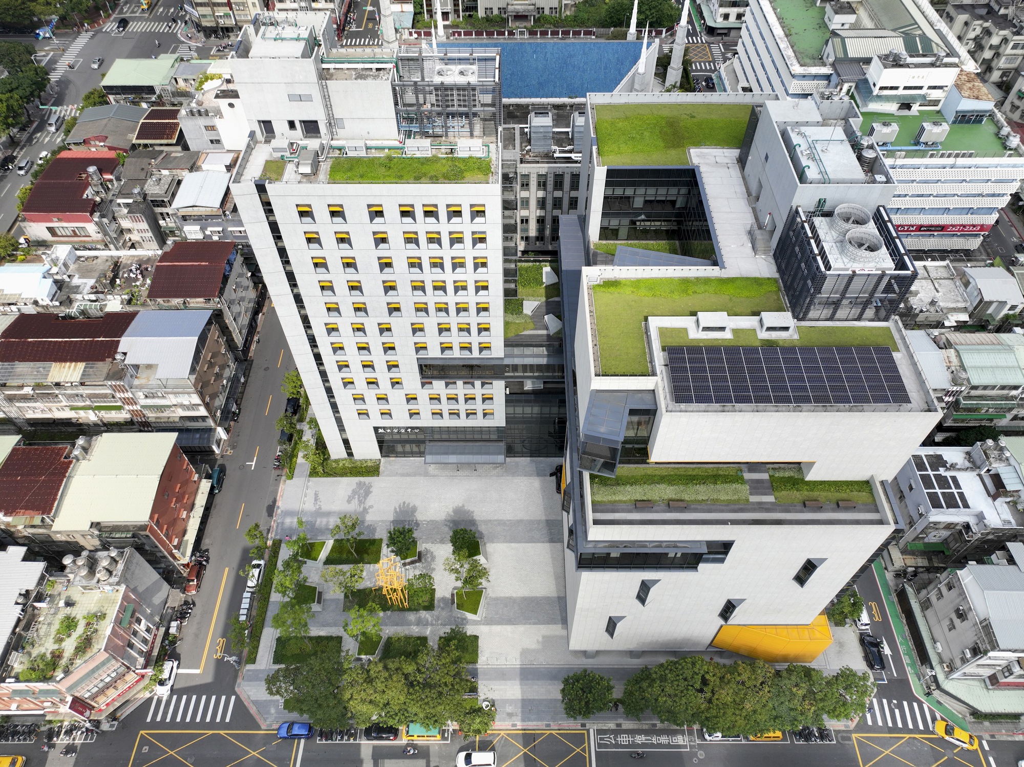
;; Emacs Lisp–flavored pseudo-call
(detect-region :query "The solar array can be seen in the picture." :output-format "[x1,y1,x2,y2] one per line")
[663,350,910,407]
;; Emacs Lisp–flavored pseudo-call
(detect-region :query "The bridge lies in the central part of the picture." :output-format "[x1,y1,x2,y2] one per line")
[506,345,559,373]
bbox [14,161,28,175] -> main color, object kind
gray car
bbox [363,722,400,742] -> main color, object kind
black car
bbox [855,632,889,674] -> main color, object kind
black car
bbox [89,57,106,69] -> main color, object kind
gray vehicle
